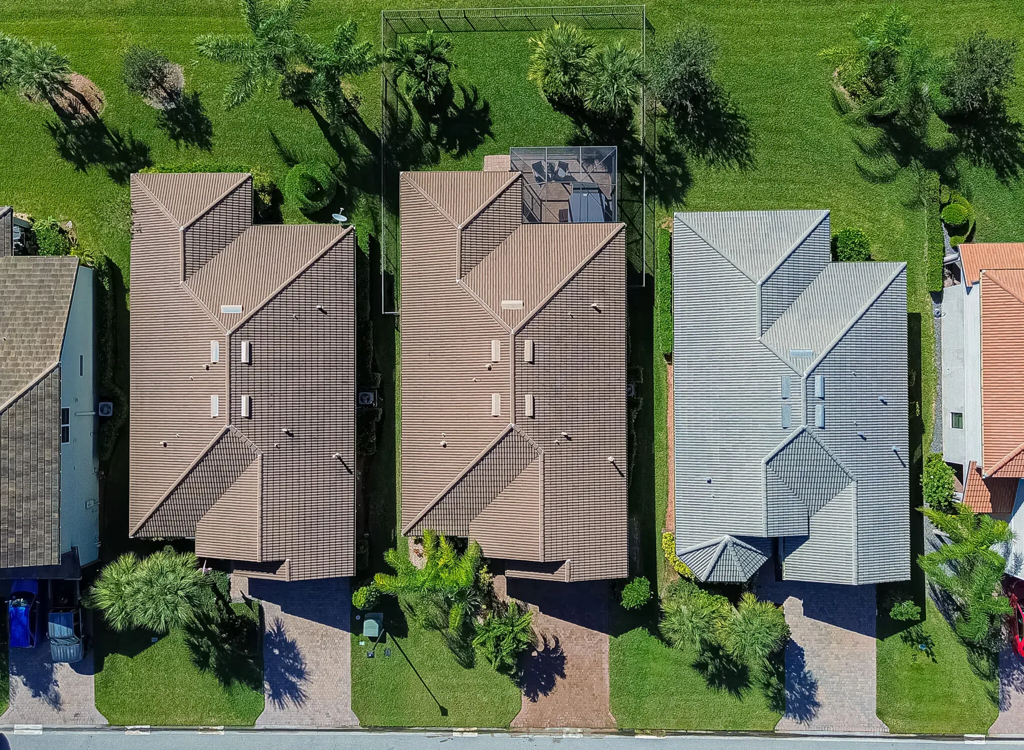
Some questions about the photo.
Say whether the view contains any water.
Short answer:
No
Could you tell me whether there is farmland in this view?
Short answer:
No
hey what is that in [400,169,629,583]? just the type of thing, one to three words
house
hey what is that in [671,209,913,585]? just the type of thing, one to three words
house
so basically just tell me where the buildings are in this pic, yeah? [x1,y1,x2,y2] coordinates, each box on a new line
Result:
[126,171,357,582]
[400,169,629,583]
[671,209,913,585]
[0,204,100,581]
[940,243,1024,586]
